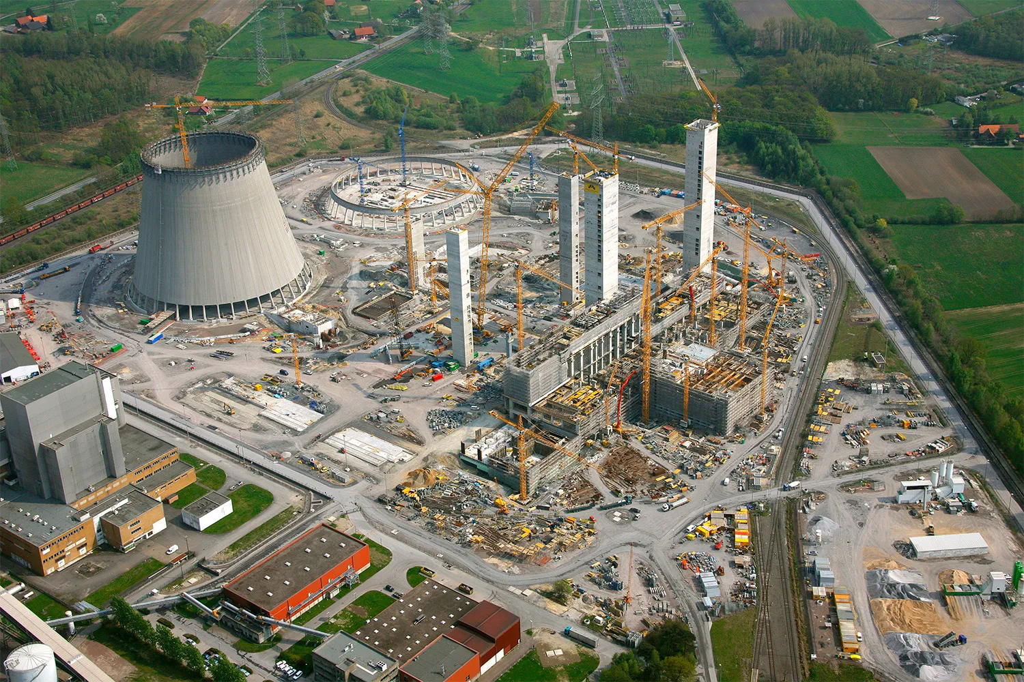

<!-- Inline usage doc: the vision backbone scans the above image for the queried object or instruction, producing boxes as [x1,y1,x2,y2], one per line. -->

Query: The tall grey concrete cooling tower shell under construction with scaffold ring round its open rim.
[124,127,314,327]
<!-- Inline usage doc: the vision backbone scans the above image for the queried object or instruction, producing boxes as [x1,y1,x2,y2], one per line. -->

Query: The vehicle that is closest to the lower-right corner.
[936,627,967,646]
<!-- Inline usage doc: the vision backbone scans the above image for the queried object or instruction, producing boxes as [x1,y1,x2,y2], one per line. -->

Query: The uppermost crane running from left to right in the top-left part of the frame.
[142,93,294,166]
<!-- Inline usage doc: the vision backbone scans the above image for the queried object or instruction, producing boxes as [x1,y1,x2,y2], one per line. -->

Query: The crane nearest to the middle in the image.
[507,249,588,346]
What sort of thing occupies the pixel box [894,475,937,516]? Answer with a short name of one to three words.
building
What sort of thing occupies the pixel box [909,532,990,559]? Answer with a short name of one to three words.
shed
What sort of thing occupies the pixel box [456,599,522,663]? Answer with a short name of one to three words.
building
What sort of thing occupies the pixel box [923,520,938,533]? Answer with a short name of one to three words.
vehicle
